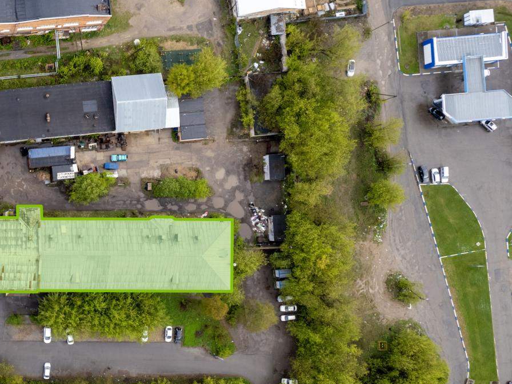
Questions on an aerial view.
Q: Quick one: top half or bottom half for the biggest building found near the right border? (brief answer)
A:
top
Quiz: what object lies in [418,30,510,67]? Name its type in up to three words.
building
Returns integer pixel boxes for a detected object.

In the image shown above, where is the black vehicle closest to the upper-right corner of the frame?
[431,104,448,121]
